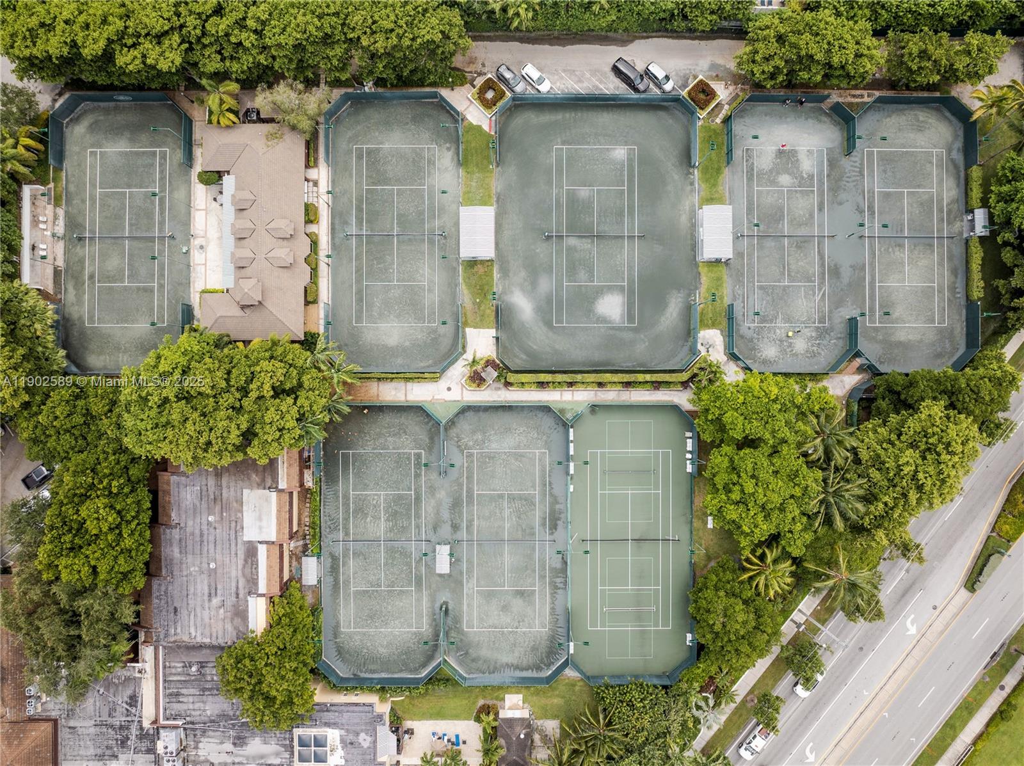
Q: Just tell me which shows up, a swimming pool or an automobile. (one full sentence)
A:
Looking from above, you can make out an automobile.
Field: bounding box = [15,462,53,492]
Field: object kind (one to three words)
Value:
truck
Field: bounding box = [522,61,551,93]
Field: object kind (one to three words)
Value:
car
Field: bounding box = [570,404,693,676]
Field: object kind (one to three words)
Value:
tennis court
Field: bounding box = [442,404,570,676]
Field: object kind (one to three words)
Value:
tennis court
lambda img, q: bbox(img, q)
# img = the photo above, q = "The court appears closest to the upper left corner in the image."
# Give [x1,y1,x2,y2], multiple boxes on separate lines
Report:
[62,101,193,374]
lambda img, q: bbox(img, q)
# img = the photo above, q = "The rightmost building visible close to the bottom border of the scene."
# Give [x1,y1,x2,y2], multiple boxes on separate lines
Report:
[497,688,532,766]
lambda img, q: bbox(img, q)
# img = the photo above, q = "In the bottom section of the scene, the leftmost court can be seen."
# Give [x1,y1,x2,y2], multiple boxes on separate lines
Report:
[321,404,443,676]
